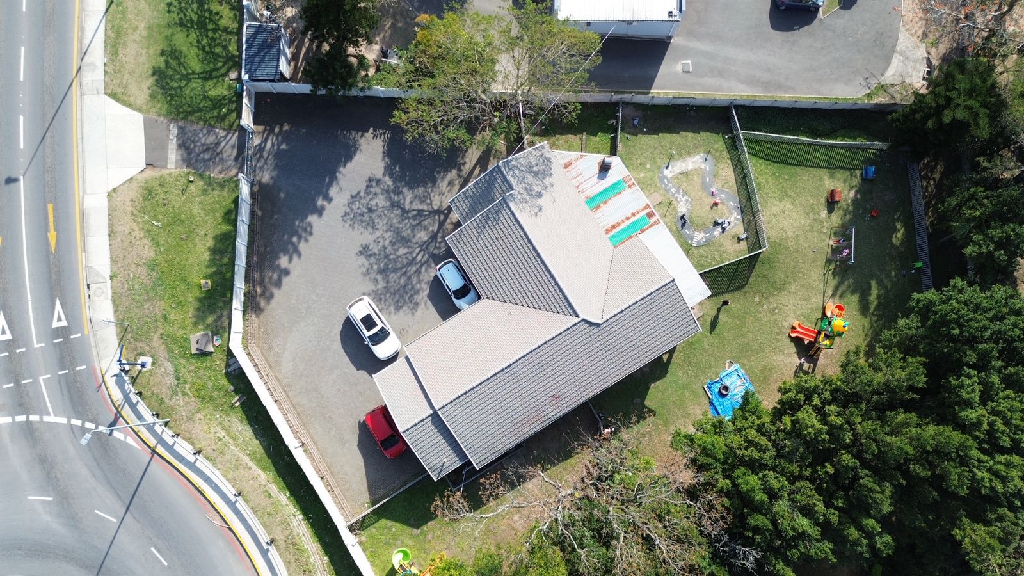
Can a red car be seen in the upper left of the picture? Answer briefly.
No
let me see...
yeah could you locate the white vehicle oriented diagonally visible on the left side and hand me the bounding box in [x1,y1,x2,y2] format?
[349,297,400,361]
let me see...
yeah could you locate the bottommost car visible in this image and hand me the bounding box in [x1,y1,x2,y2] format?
[362,404,405,457]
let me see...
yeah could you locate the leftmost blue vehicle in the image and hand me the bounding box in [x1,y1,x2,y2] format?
[434,257,477,310]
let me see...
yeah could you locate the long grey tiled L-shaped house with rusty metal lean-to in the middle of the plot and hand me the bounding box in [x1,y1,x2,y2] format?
[372,141,712,482]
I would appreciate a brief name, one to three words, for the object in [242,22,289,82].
shed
